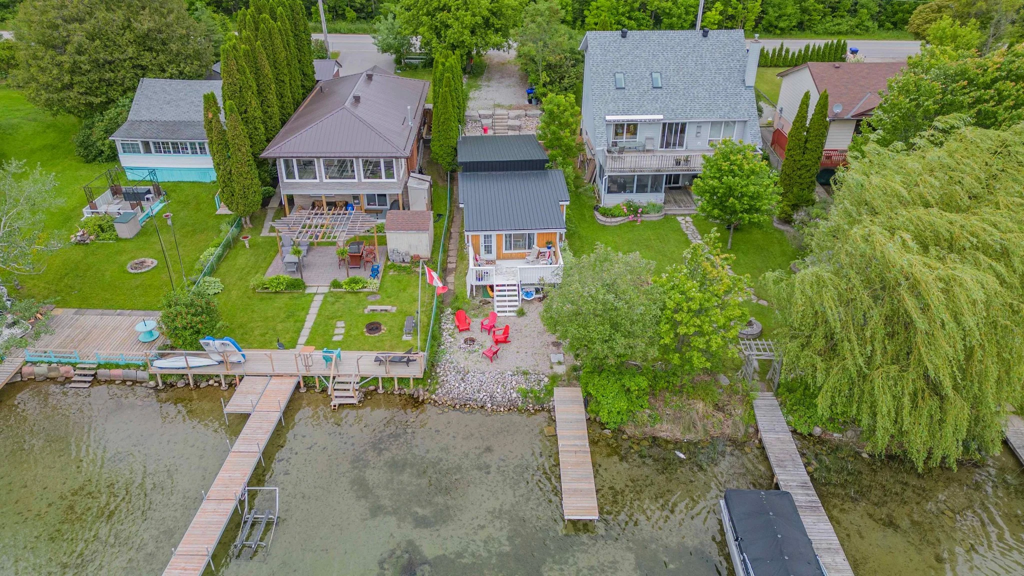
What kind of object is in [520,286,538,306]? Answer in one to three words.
boat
